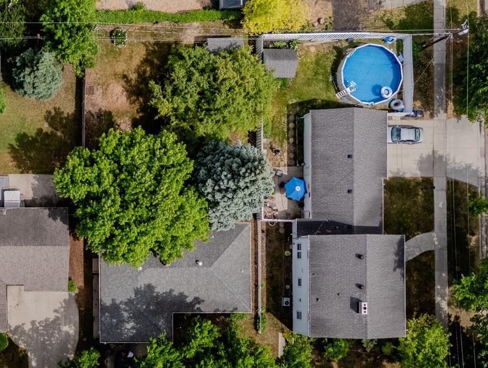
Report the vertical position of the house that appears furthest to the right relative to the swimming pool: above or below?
below it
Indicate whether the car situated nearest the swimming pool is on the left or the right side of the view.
right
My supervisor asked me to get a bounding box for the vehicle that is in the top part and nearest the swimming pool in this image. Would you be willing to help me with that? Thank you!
[388,122,428,145]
